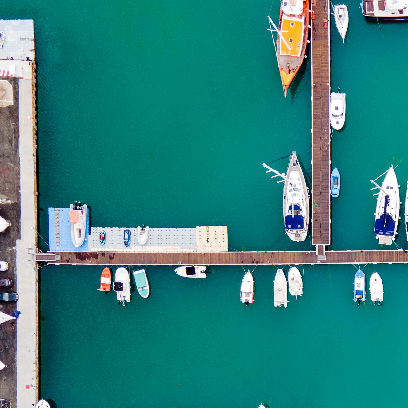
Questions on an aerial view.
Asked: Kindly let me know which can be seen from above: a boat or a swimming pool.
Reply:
boat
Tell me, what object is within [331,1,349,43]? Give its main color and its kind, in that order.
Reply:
white boat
